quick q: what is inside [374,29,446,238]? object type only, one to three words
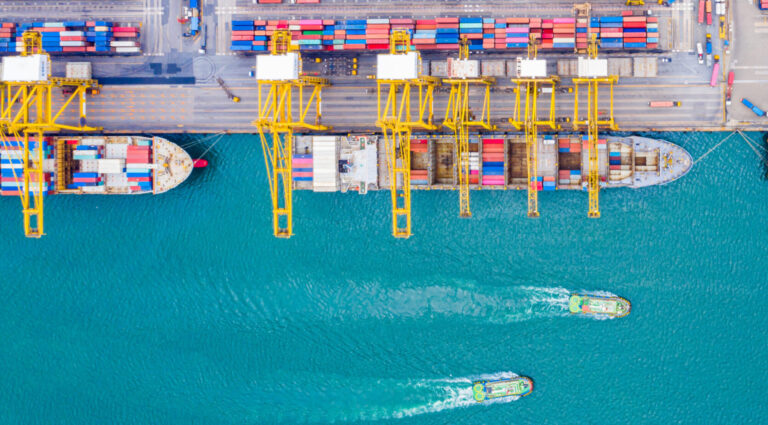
container crane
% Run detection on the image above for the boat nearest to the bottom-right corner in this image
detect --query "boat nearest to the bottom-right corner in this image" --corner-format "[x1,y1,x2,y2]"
[568,292,632,316]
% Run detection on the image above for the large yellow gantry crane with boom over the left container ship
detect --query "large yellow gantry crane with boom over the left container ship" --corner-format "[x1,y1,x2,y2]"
[0,29,104,238]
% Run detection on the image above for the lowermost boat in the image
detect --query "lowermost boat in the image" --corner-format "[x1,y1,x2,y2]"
[471,375,535,403]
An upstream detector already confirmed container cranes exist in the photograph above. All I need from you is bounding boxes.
[573,0,592,59]
[509,36,565,219]
[254,29,336,238]
[0,29,104,238]
[442,36,504,218]
[374,29,446,238]
[572,36,622,220]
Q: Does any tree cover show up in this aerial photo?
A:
No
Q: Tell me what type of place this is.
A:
port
